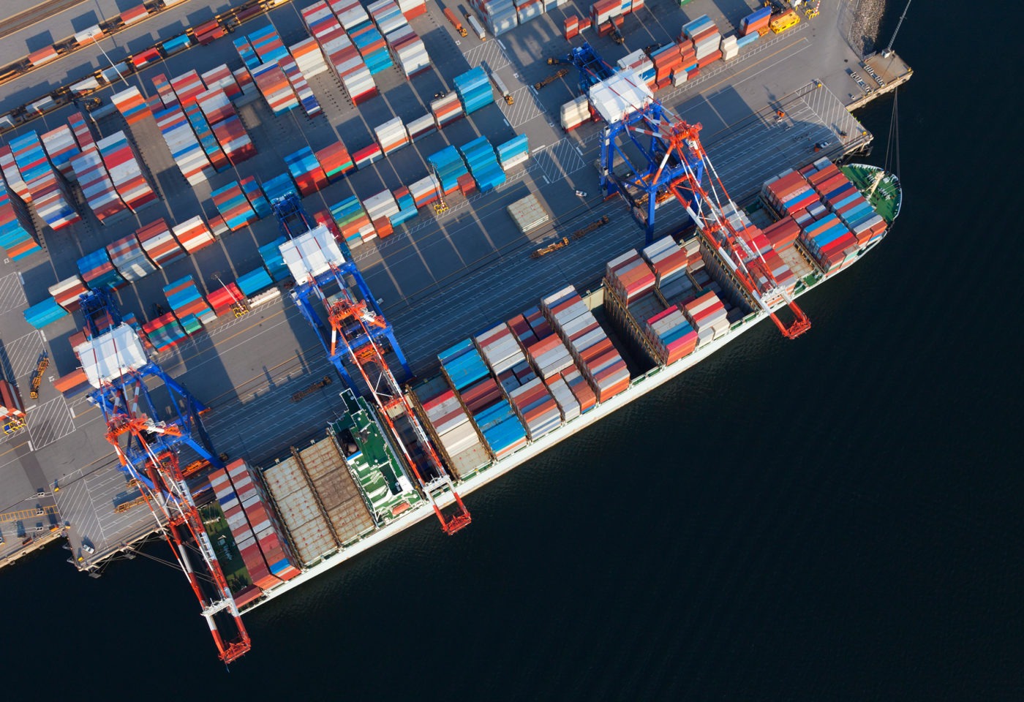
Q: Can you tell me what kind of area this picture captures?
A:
port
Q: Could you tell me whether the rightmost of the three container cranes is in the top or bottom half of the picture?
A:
top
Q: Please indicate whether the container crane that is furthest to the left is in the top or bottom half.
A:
bottom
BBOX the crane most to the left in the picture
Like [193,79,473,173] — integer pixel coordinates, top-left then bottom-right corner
[71,277,255,667]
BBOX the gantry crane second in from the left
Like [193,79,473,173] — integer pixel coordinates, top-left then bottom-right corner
[262,183,477,538]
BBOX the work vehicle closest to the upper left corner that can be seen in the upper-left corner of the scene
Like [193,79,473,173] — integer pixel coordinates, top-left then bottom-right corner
[88,91,122,110]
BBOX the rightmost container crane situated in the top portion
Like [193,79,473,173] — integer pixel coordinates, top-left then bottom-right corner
[559,35,819,340]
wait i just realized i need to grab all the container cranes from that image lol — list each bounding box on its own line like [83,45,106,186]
[559,35,819,340]
[71,277,255,667]
[262,183,477,538]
